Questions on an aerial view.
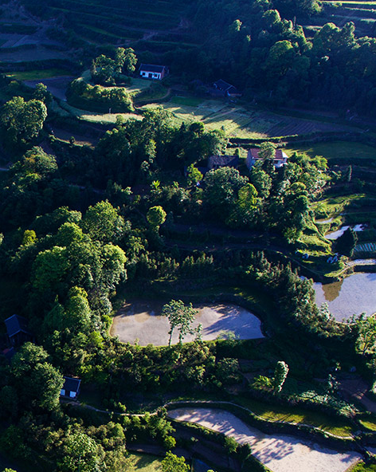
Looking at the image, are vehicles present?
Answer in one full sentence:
No, the frame has no vehicle in it.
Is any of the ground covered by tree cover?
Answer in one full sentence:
Yes, tree cover shows up in the scene.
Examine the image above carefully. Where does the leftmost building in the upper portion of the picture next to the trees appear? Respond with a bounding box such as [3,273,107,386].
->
[140,62,167,78]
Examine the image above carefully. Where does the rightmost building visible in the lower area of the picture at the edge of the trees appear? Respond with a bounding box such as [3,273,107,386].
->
[61,378,82,396]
